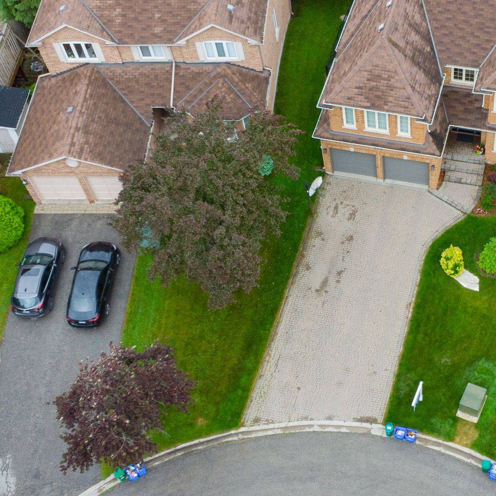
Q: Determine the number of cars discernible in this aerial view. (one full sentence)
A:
My tally gives 2 cars in this view.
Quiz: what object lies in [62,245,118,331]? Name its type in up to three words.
car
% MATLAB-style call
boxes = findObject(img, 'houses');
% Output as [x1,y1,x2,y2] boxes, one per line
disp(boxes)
[311,0,496,192]
[5,0,286,208]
